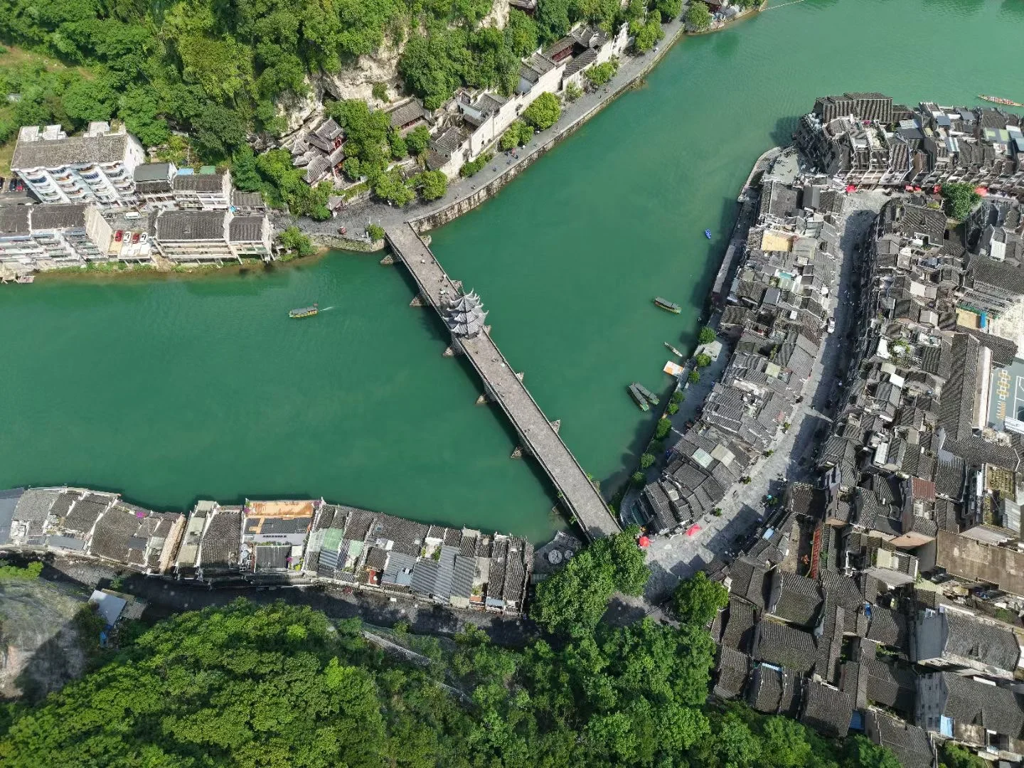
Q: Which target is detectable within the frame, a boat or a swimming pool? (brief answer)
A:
boat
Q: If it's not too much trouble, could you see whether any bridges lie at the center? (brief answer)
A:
Yes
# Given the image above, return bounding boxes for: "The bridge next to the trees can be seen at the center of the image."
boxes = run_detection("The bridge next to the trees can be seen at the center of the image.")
[382,219,615,541]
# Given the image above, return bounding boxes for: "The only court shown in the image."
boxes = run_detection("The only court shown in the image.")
[986,356,1024,428]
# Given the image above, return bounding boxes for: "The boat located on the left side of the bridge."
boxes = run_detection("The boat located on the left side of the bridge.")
[287,303,318,316]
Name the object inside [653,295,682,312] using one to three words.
boat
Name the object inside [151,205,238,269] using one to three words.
house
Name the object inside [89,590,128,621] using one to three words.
shed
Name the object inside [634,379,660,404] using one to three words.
boat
